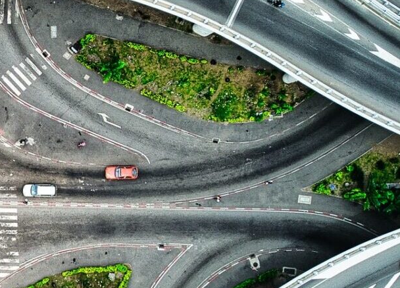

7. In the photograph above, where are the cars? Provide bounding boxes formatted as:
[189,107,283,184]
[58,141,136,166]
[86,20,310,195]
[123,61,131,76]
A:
[106,164,141,179]
[24,183,58,197]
